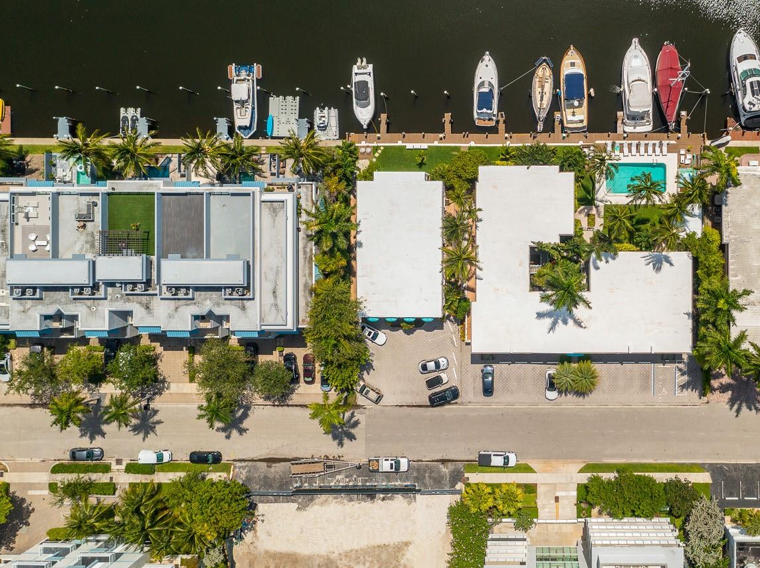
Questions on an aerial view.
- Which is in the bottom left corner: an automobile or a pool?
automobile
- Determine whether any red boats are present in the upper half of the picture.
Yes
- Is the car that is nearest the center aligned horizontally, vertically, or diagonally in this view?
diagonally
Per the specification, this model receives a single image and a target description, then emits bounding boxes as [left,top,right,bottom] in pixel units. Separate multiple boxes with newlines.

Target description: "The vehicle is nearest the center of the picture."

[358,321,390,347]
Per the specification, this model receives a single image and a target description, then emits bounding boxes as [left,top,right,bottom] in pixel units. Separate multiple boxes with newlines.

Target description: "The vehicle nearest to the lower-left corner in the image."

[70,446,105,463]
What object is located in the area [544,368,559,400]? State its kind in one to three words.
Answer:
car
